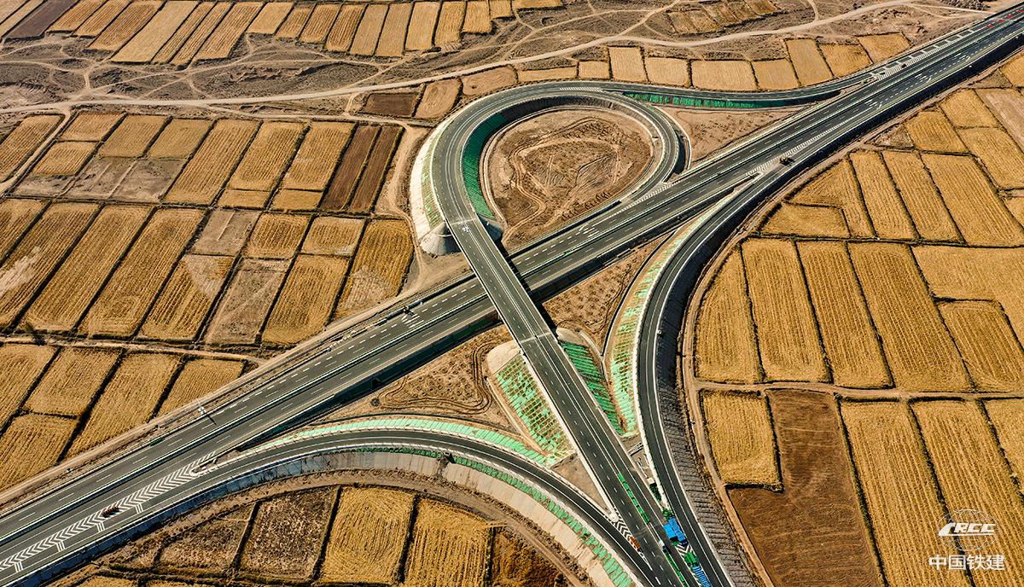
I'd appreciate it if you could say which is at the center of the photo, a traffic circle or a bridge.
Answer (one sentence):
The one visible at the center of the photo is a bridge.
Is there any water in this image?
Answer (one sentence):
No, the scene doesn't show any water.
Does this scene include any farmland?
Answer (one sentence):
Yes, there's farmland in this view.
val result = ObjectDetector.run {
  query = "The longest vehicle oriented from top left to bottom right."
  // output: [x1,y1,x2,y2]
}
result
[657,536,670,552]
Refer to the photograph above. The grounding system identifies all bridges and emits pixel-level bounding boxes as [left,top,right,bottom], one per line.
[420,216,582,371]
